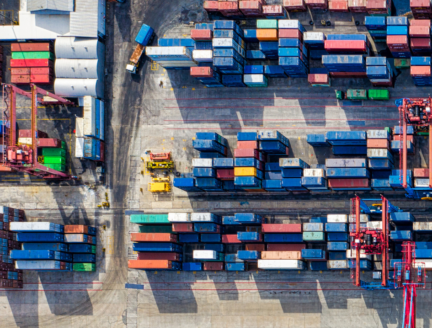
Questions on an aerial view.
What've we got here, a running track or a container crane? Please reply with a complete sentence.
Visible in the photo is a container crane.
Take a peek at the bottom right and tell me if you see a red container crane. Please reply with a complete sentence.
Yes, there is a red container crane at the bottom right.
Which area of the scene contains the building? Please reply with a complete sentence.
The building is in the top left part of the image.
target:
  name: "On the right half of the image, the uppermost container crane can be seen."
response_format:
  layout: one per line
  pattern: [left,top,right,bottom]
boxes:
[398,99,432,200]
